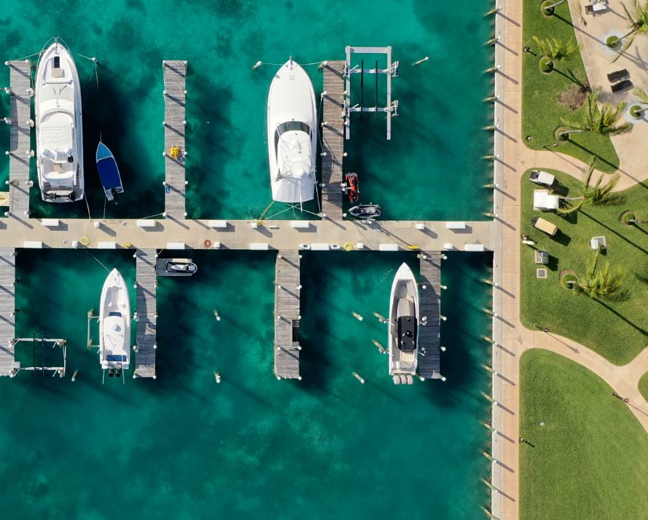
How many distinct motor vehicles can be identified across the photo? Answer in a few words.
two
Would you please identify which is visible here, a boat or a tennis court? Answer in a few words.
boat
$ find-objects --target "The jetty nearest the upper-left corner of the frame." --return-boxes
[9,61,32,219]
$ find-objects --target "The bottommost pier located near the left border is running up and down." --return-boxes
[0,248,16,375]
